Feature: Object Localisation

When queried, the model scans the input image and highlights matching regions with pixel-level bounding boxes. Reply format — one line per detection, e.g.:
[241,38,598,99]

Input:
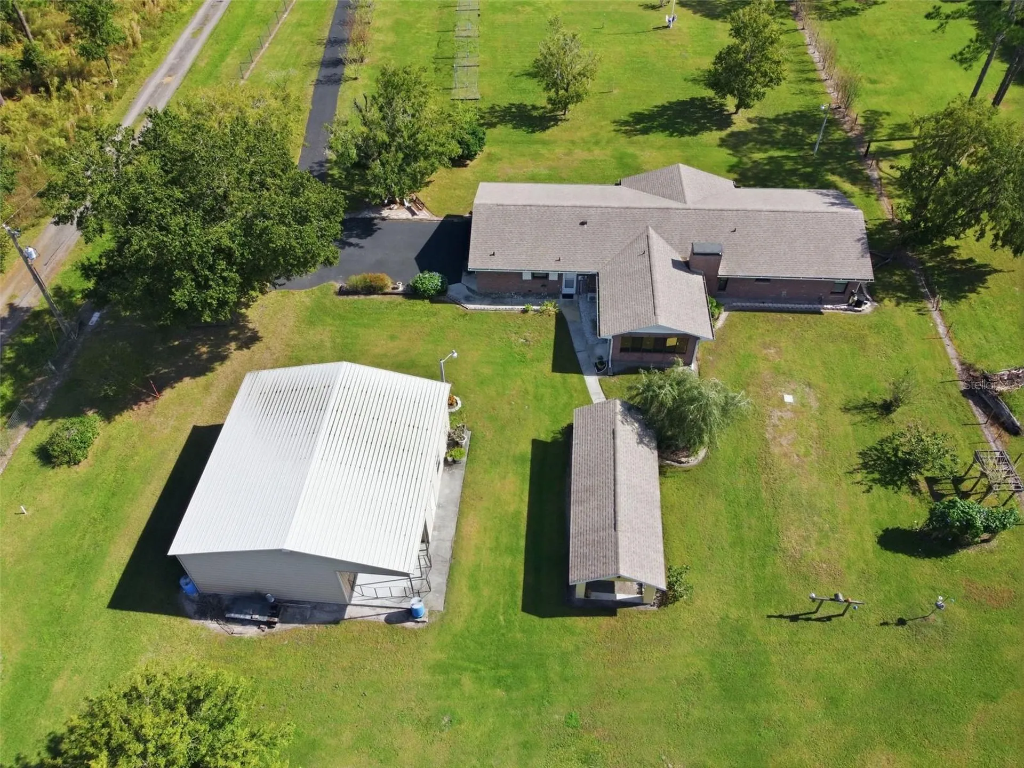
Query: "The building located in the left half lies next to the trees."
[167,361,451,606]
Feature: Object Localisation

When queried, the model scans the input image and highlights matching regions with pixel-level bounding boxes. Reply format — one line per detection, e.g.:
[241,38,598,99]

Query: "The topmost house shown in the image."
[468,162,874,368]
